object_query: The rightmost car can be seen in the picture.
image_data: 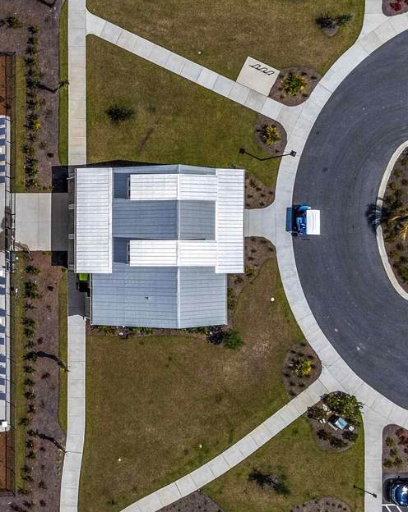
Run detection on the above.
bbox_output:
[384,481,408,507]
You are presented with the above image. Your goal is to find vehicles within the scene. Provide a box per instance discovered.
[292,207,321,237]
[384,481,408,507]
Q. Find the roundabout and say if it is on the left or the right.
right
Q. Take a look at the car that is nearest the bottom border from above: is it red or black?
black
